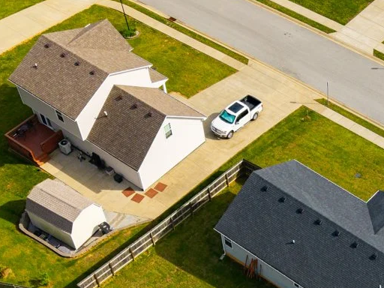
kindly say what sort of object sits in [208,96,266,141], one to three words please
truck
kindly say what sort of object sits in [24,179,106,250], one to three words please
shed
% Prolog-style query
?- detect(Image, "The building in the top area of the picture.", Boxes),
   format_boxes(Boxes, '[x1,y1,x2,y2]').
[7,19,209,194]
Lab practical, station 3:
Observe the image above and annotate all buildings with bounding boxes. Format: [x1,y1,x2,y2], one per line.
[214,161,384,288]
[7,19,209,194]
[24,179,106,250]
